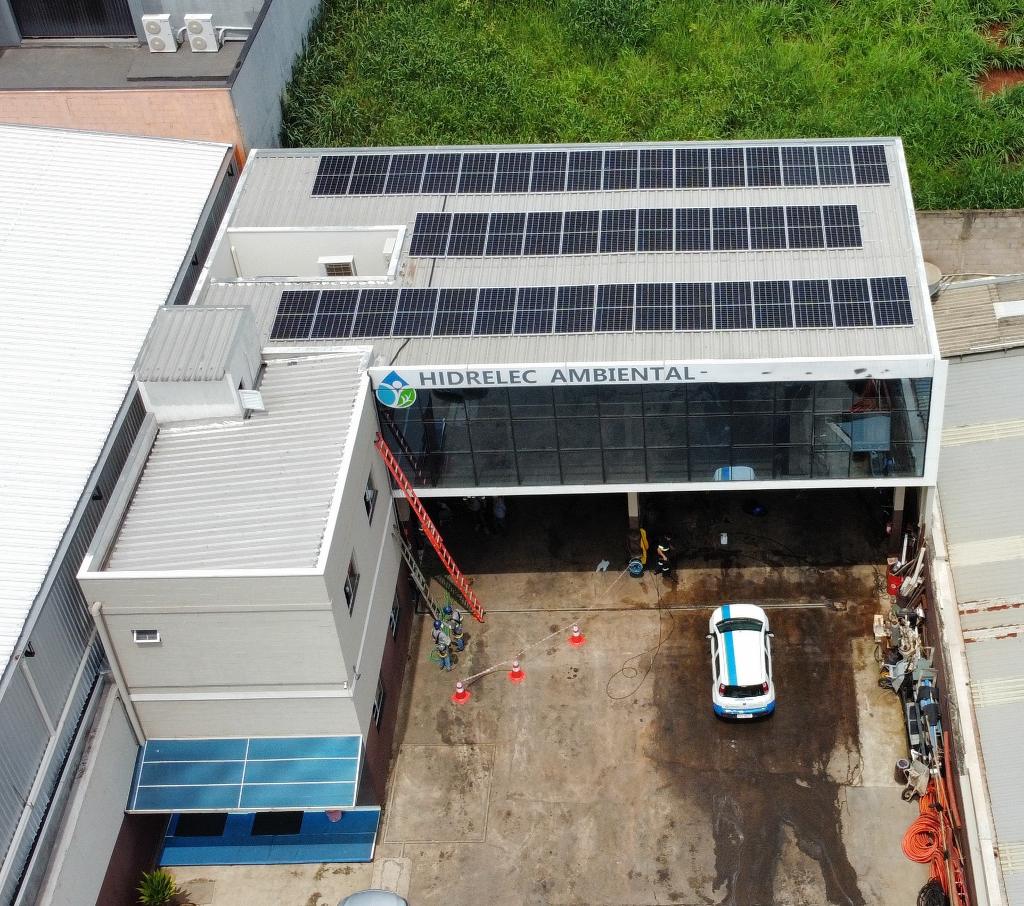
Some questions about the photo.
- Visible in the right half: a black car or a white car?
white car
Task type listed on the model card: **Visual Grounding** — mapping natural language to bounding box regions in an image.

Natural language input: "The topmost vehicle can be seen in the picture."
[703,612,777,725]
